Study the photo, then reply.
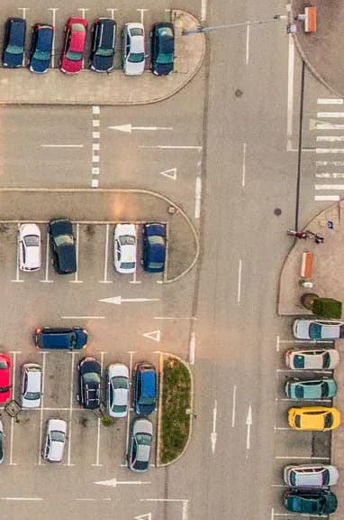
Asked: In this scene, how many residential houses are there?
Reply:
0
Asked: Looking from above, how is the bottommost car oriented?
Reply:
from side to side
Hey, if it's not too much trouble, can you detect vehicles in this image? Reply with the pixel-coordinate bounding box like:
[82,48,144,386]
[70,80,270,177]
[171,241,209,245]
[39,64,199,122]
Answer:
[1,18,27,68]
[286,405,339,432]
[17,223,43,272]
[112,224,137,273]
[149,23,176,75]
[0,354,13,402]
[120,23,148,74]
[59,19,87,74]
[284,347,337,372]
[47,218,76,274]
[0,420,6,464]
[140,223,167,273]
[75,357,102,409]
[284,374,336,401]
[105,362,131,417]
[18,362,44,407]
[27,24,54,73]
[34,325,85,351]
[282,488,335,516]
[42,416,68,462]
[291,317,344,343]
[130,362,160,414]
[125,418,154,471]
[90,19,116,72]
[282,462,337,489]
